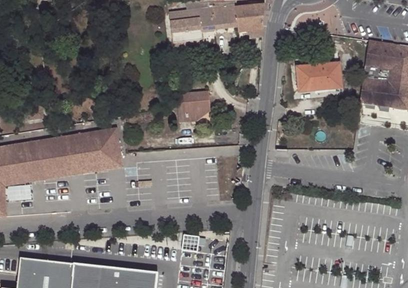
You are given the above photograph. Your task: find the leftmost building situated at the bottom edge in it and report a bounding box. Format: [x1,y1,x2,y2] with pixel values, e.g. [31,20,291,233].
[16,258,72,288]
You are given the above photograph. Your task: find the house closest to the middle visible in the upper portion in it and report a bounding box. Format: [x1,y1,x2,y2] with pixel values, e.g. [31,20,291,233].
[178,90,211,122]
